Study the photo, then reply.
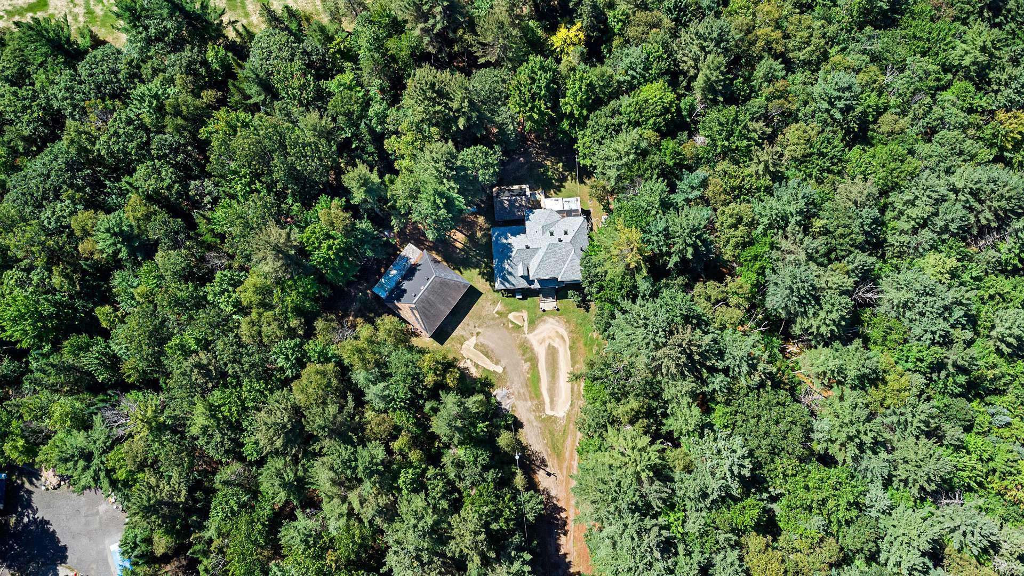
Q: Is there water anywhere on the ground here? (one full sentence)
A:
No, the scene doesn't show any water.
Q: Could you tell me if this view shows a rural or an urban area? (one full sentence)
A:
This place is rural.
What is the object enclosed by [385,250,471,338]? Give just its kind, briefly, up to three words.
barn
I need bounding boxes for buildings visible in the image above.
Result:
[491,207,589,303]
[385,250,471,338]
